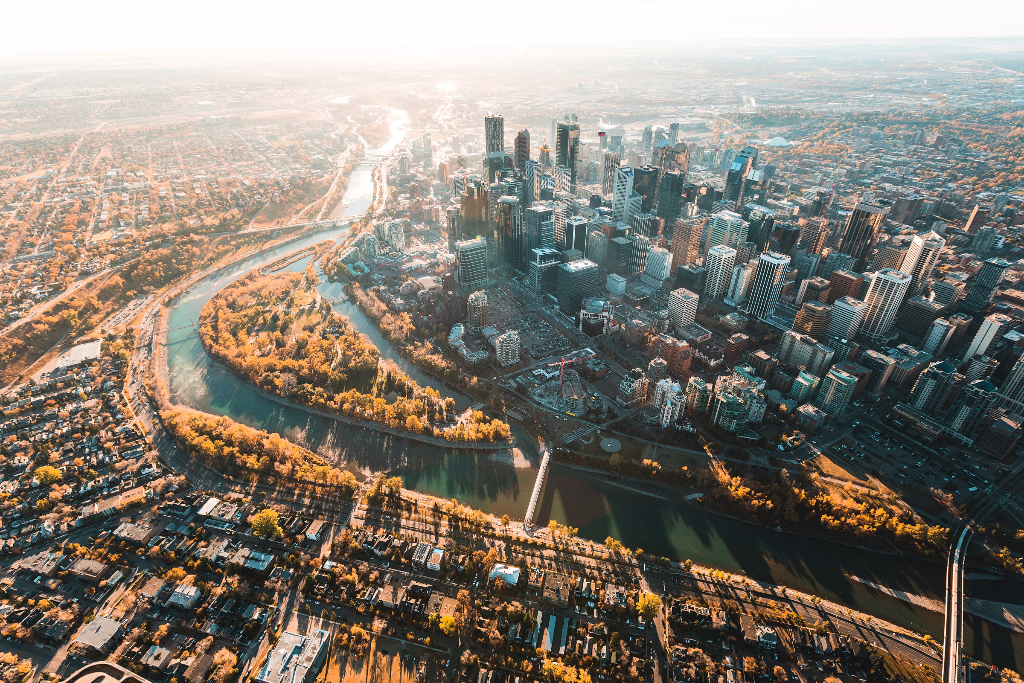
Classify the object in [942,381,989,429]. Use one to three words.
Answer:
building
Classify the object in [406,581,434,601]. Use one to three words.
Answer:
house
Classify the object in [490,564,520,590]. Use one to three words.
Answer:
house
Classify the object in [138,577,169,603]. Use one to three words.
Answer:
building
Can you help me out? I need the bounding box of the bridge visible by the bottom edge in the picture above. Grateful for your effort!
[941,501,987,683]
